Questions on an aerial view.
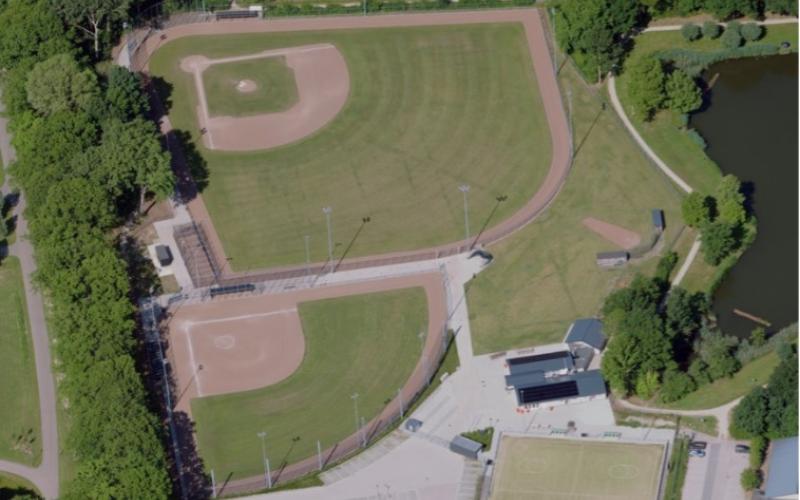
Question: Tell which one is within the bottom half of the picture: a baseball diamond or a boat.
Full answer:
Visible within the bottom half of the picture is a baseball diamond.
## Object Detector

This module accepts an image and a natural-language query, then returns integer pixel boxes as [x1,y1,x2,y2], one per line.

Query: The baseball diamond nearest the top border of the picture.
[131,9,572,286]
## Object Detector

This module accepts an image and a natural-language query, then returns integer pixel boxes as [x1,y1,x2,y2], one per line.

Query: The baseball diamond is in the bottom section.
[160,272,447,500]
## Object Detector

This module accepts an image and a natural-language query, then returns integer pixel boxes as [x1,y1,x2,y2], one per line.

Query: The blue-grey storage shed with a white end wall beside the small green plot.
[452,434,483,460]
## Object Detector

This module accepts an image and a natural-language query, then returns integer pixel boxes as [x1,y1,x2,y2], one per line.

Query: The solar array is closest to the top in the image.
[508,350,569,364]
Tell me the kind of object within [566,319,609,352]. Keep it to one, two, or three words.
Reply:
shed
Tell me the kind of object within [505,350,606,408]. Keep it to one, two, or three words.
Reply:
building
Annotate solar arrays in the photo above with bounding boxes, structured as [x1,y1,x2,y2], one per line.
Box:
[508,350,569,364]
[520,380,580,402]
